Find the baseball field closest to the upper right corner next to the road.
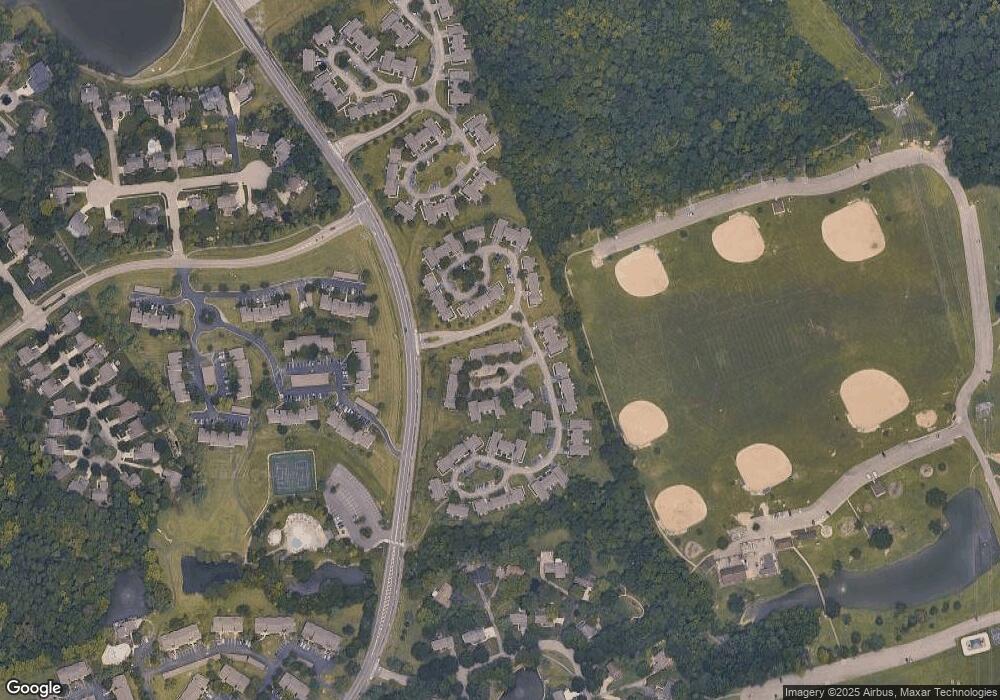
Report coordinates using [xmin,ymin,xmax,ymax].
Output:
[820,200,887,263]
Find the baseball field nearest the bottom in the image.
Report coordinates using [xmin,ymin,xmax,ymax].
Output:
[654,483,708,537]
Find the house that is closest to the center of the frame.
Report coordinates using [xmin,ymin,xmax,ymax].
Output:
[469,340,523,360]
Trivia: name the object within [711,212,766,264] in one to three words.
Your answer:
baseball field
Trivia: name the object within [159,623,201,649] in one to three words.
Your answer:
building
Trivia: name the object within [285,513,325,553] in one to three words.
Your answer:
swimming pool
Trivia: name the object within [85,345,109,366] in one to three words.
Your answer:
house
